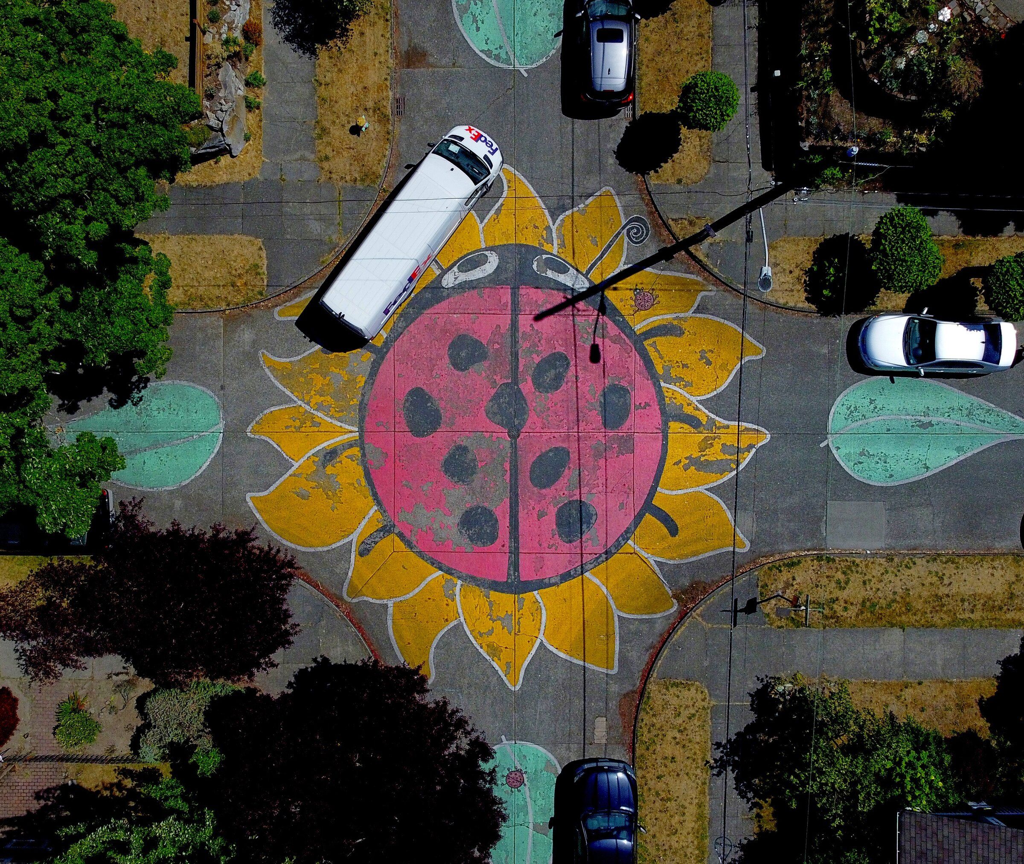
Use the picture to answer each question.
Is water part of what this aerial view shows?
No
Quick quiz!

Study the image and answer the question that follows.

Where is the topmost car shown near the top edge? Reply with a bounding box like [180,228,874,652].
[567,0,647,107]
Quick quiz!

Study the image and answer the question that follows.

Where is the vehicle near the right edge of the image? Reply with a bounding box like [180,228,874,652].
[859,304,1014,381]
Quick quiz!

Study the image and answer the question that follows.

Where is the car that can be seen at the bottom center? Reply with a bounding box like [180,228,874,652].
[562,756,644,864]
